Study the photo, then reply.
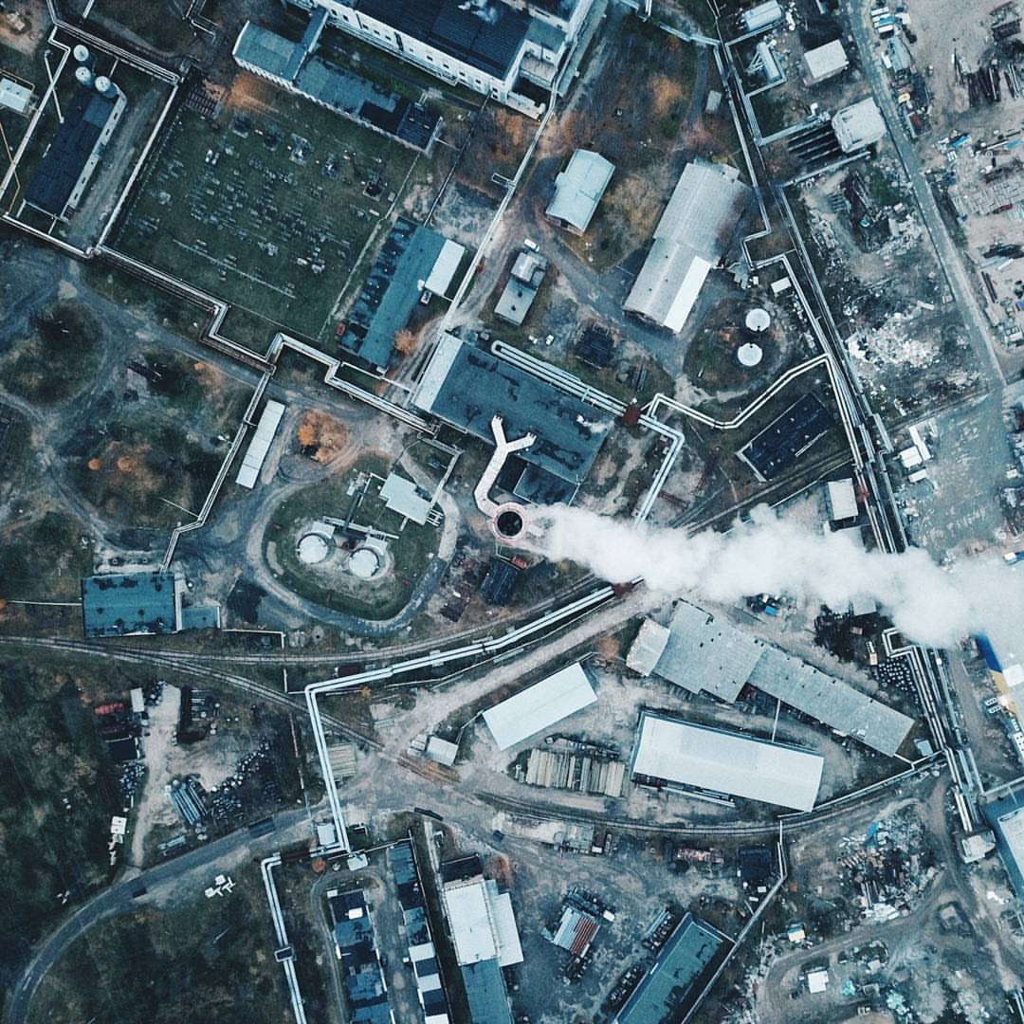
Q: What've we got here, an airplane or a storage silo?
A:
storage silo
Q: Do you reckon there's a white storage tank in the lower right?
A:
No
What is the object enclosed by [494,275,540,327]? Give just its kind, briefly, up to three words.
building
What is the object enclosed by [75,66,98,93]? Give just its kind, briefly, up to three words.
silo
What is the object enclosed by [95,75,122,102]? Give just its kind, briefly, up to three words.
silo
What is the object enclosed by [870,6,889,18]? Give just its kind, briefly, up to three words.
vehicle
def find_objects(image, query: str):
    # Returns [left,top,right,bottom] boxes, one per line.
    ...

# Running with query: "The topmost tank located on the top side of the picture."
[742,0,786,33]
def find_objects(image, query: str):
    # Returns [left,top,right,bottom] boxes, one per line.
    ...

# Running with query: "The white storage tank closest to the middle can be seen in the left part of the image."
[349,548,382,580]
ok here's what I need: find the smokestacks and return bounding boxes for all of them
[490,503,531,544]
